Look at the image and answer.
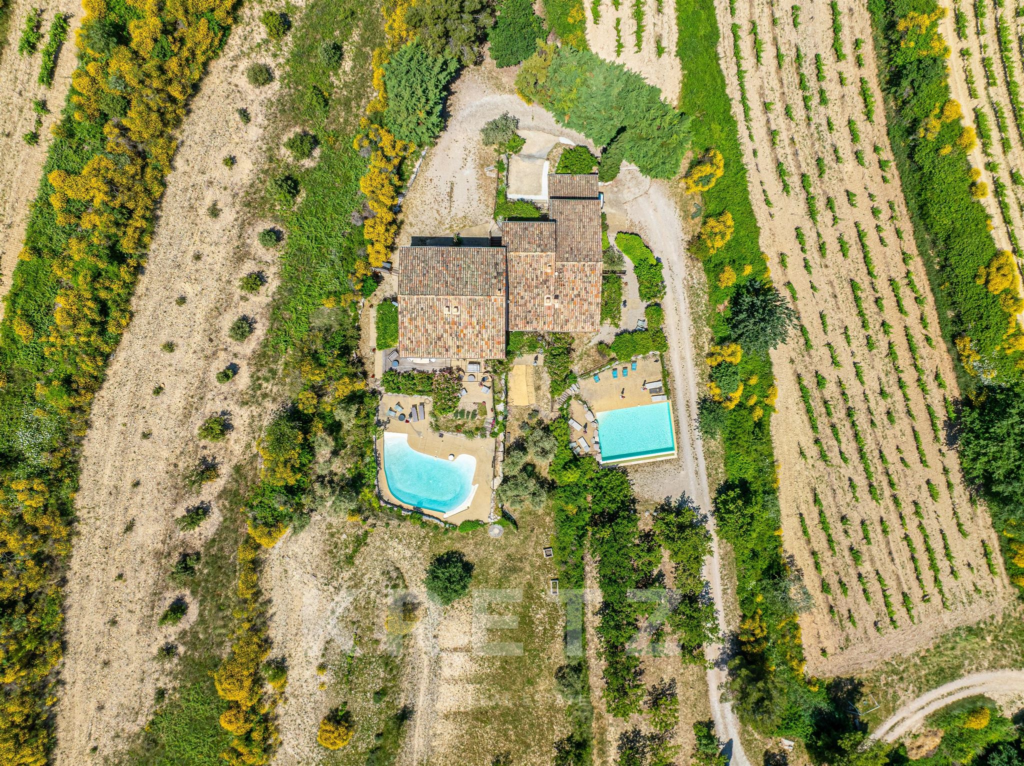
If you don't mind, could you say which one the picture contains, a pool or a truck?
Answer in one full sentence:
I can see a pool in this picture.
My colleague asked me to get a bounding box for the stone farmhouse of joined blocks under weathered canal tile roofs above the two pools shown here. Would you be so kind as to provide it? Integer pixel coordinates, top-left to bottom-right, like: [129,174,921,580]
[396,173,603,359]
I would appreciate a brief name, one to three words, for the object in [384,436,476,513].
swimming pool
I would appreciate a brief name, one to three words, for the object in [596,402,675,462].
swimming pool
